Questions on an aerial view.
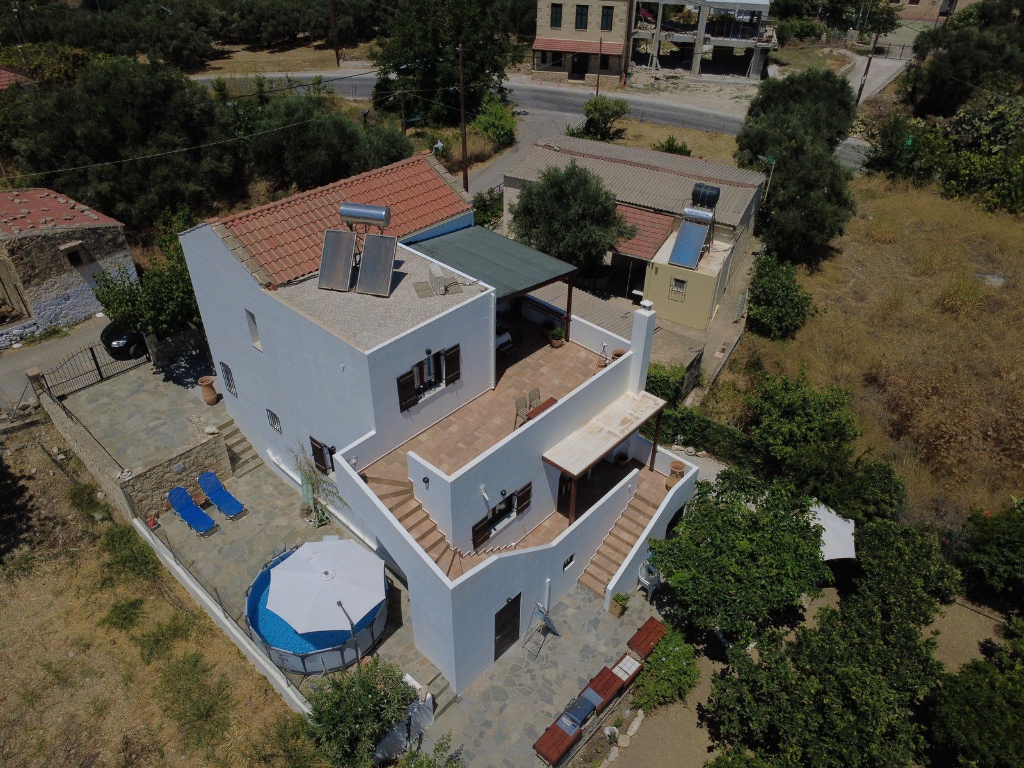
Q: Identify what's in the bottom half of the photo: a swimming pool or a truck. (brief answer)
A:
swimming pool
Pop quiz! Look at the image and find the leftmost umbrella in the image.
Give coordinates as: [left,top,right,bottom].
[265,539,386,642]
